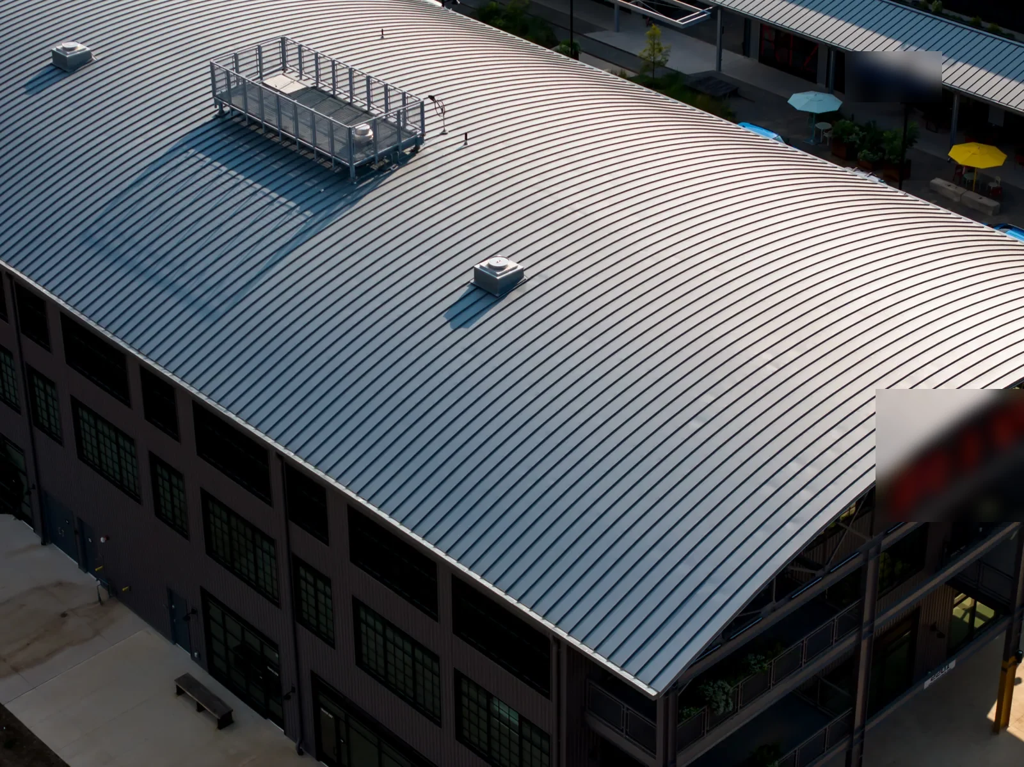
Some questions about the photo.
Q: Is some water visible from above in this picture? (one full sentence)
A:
No, the scene doesn't show any water.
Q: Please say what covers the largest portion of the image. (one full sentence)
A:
The bulk of the photo consists of buildings.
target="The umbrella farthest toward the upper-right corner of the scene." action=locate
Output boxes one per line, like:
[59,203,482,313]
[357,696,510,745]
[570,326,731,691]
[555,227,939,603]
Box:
[949,145,1007,196]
